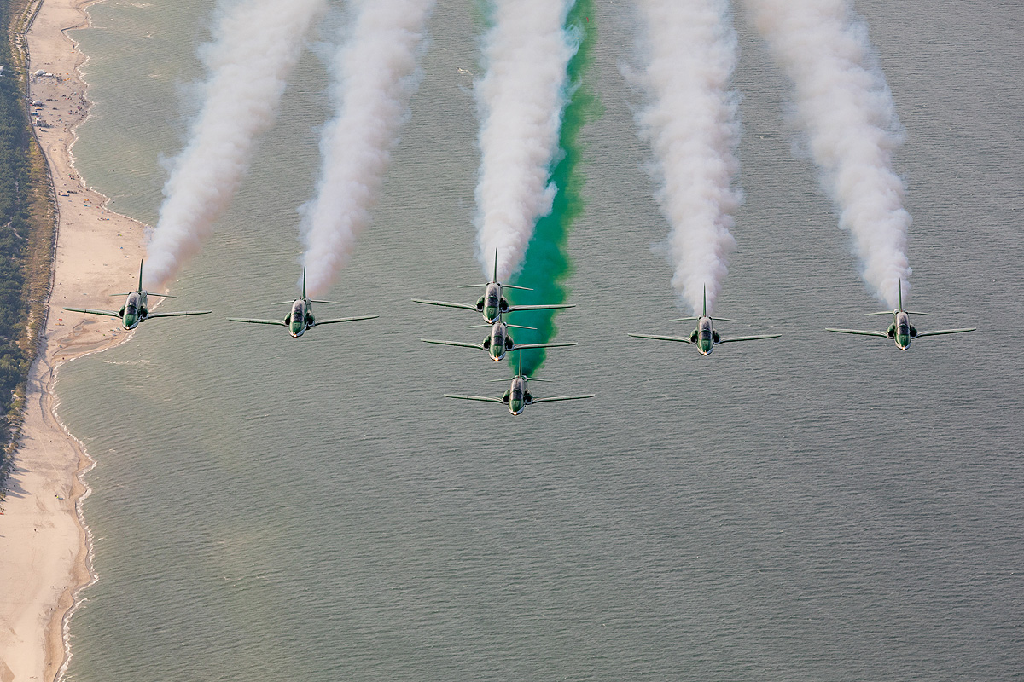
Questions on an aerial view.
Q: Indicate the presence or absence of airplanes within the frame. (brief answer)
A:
Yes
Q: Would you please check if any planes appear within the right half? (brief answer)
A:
Yes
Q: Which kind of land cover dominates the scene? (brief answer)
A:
water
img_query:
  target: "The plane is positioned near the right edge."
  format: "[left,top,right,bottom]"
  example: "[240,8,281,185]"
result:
[824,277,976,348]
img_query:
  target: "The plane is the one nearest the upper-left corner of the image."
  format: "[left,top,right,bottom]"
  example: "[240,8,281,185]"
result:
[64,258,212,329]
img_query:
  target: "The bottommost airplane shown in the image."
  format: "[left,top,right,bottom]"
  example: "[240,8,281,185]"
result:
[442,347,594,416]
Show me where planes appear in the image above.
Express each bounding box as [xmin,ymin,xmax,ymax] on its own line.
[442,347,594,416]
[411,245,575,323]
[824,277,976,348]
[627,281,781,354]
[64,258,212,329]
[422,313,579,360]
[227,264,378,336]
